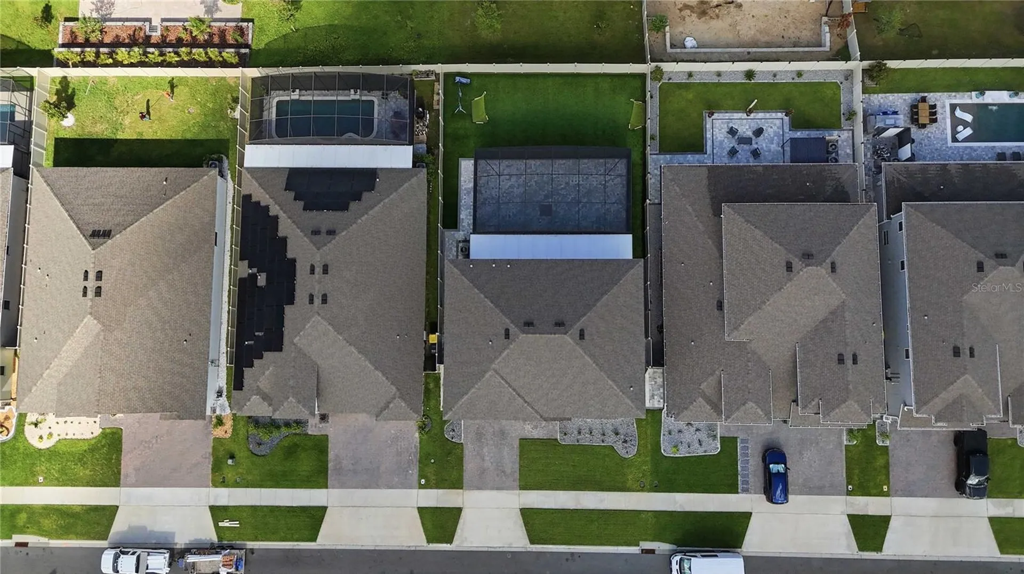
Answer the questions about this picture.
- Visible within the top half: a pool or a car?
pool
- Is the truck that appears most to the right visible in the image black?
Yes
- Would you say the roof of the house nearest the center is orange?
No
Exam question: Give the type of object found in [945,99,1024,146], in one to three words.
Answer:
swimming pool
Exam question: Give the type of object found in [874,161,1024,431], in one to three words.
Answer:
house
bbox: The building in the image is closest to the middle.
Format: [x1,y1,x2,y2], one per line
[443,234,646,422]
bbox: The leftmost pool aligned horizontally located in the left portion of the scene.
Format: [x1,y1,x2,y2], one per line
[273,96,378,140]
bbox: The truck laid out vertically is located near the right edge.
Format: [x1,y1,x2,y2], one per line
[955,428,991,500]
